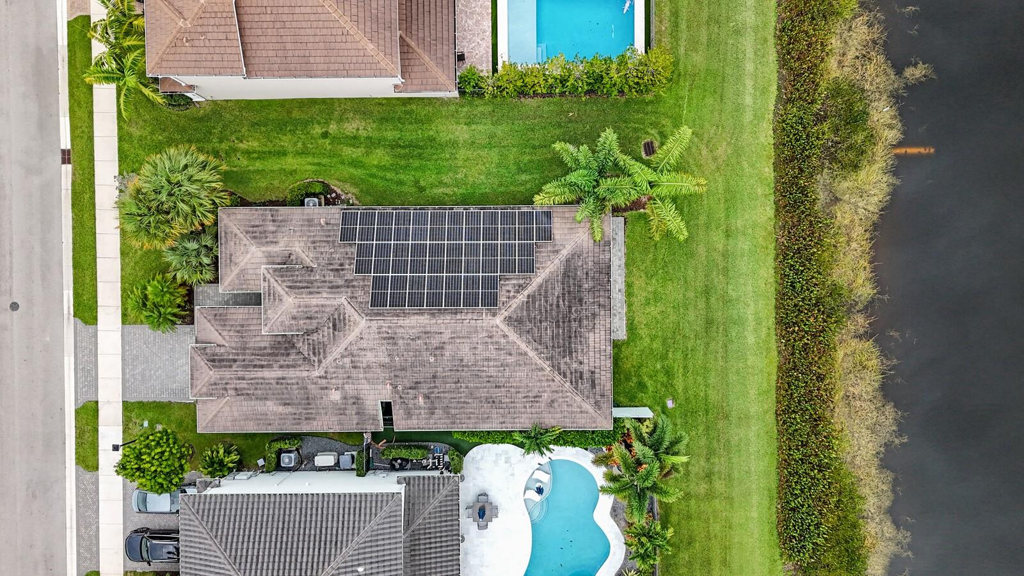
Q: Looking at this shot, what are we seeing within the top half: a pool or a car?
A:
pool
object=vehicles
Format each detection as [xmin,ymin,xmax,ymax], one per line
[131,483,195,520]
[124,530,178,571]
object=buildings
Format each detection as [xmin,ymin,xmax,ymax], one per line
[144,0,459,105]
[188,205,614,434]
[178,469,462,576]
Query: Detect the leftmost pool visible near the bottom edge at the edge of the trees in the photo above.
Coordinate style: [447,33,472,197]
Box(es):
[518,452,616,576]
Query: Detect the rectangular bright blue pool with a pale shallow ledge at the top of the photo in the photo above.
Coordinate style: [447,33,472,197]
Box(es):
[509,0,635,63]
